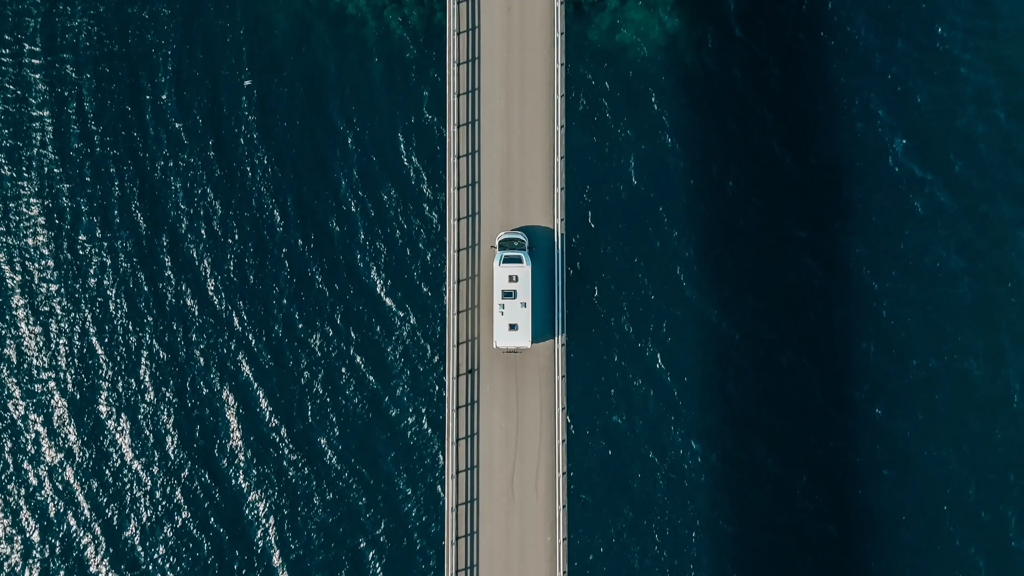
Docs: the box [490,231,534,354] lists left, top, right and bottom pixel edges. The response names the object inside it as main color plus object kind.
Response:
white camper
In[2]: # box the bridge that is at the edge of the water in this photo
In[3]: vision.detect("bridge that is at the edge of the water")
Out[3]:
[445,0,566,576]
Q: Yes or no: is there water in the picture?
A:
Yes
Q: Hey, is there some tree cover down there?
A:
No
